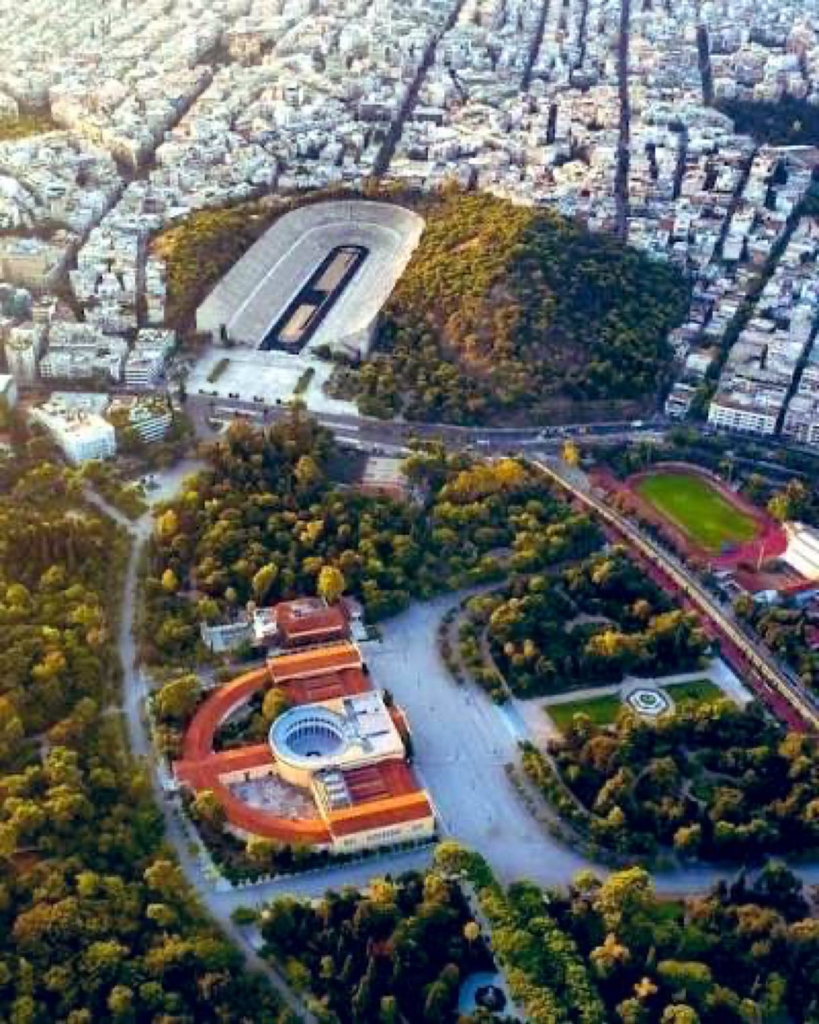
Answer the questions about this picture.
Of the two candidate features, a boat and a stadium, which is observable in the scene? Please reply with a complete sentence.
It is a stadium that can be seen here.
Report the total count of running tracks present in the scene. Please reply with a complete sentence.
Altogether the scene contains 2 running tracks.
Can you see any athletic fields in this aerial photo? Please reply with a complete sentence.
Yes, the photo shows an athletic field.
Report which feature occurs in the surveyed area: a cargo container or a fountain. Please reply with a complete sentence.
There is a fountain in the scene.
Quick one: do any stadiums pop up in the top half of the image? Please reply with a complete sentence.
Yes, a stadium can be seen in the top half of the image.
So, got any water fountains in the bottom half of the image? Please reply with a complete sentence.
Yes, there is a water fountain in the bottom half of the image.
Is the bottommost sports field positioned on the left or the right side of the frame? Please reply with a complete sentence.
You can find the bottommost sports field on the right side of the picture.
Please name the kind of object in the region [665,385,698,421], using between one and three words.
building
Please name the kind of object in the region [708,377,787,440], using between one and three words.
building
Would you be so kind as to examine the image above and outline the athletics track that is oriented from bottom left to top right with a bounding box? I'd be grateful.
[258,246,369,354]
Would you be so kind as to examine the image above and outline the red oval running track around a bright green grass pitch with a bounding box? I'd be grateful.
[621,459,788,566]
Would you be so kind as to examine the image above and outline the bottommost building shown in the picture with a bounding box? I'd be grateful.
[168,643,435,860]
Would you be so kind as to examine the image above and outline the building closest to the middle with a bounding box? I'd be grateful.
[362,457,408,487]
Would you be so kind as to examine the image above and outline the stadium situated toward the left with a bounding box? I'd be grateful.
[195,198,426,354]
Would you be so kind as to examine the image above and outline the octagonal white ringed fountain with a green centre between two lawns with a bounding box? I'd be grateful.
[619,681,675,719]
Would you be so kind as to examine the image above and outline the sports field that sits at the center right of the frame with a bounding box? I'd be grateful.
[636,470,764,551]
